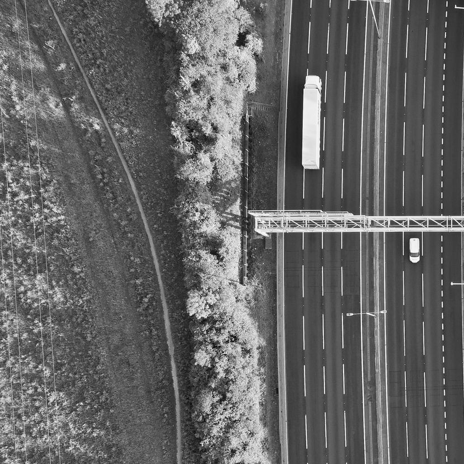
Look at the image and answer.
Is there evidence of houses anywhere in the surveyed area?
No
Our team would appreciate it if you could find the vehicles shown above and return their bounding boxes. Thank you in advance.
[304,78,323,168]
[408,238,421,263]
